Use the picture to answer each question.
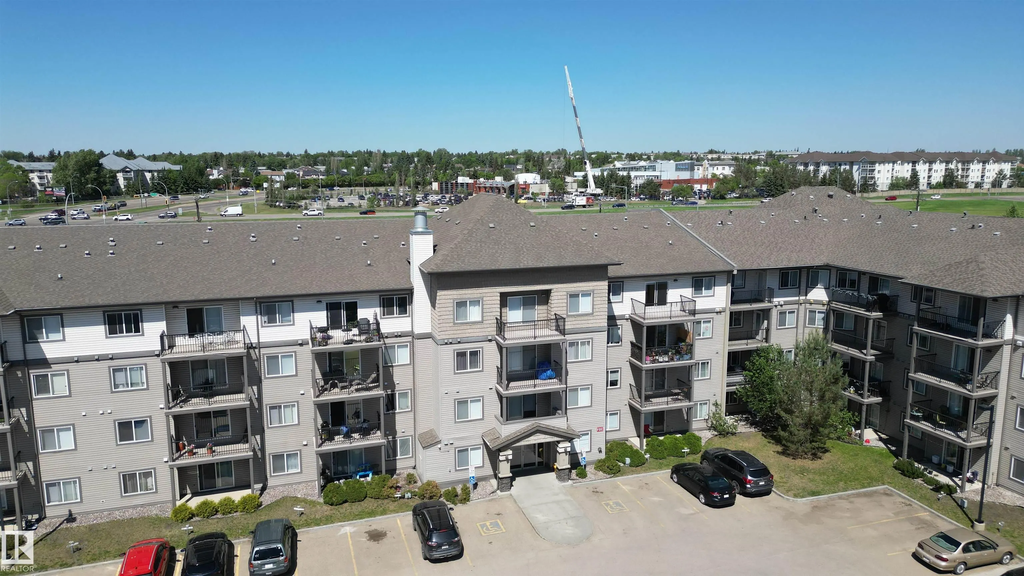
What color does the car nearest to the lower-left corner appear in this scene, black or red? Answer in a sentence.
The color of the car nearest to the lower-left corner is red.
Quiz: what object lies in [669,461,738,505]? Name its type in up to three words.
car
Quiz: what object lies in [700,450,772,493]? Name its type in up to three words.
car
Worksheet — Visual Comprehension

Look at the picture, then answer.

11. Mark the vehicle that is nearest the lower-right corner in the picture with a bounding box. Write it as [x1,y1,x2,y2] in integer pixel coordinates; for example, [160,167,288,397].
[916,527,1023,576]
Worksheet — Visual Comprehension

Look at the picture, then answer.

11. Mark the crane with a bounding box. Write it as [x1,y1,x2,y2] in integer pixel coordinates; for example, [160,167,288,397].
[564,66,599,195]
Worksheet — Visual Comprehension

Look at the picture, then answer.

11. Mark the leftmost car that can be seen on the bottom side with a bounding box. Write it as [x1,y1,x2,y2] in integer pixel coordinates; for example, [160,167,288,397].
[117,538,172,576]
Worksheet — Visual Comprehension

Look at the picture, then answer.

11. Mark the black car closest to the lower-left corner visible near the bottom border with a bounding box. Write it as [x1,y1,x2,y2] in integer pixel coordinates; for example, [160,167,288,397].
[180,532,233,576]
